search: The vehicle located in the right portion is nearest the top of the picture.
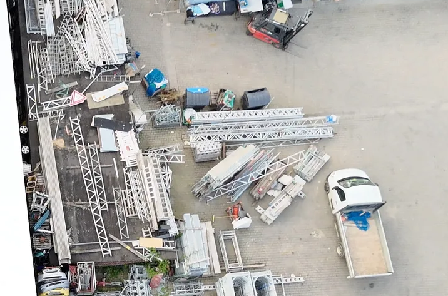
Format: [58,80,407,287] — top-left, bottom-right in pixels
[257,2,313,47]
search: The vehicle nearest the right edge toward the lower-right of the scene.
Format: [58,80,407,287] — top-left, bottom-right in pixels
[325,170,392,280]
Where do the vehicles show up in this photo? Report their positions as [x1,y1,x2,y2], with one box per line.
[325,170,392,280]
[257,2,313,47]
